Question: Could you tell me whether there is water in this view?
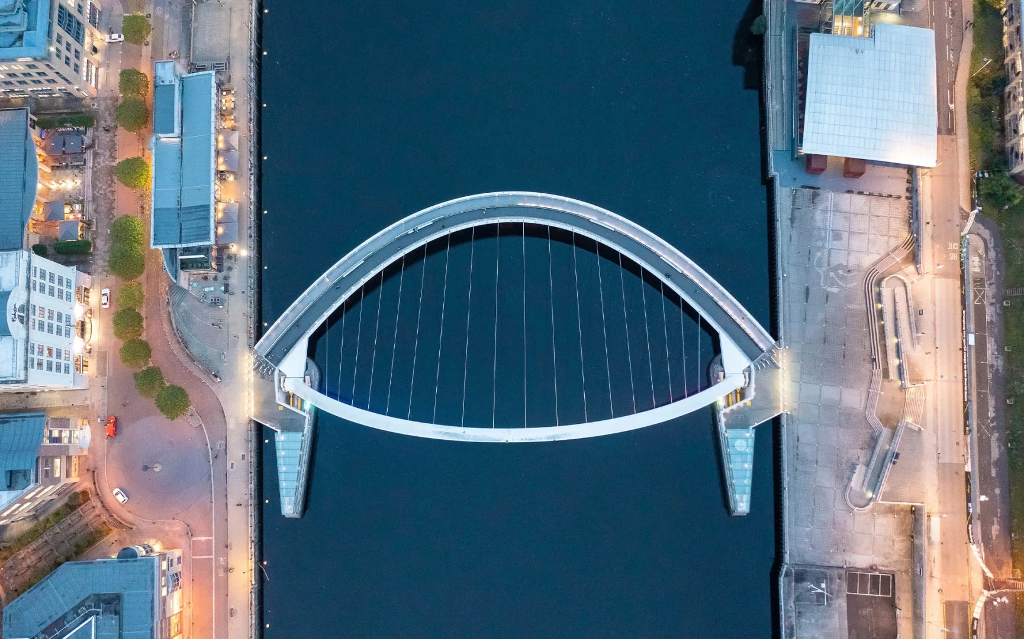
Yes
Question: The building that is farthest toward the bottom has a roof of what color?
blue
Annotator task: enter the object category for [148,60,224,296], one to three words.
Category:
building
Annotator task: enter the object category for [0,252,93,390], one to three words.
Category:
building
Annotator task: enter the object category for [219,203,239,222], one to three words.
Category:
umbrella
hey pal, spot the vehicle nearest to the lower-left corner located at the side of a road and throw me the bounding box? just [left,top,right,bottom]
[111,486,128,506]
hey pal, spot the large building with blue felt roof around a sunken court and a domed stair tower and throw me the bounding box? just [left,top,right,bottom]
[1,540,184,639]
